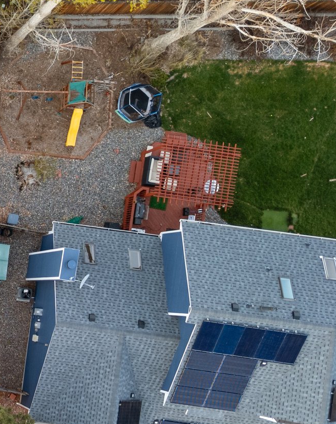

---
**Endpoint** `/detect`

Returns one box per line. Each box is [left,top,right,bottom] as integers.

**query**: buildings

[17,218,336,424]
[0,241,12,283]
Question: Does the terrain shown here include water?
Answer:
No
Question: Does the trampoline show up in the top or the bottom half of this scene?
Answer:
top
